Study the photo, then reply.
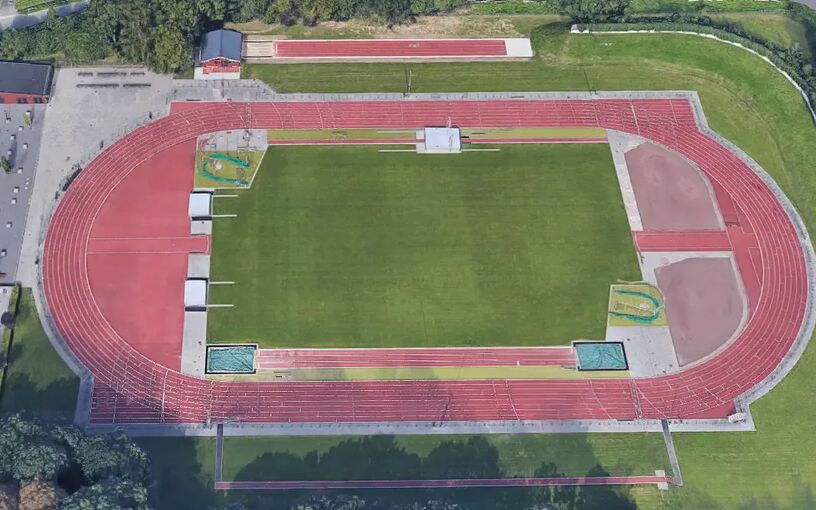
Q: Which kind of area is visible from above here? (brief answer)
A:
sports ground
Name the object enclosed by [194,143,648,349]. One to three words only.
sports field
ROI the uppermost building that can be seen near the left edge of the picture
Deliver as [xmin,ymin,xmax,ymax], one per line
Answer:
[0,61,53,103]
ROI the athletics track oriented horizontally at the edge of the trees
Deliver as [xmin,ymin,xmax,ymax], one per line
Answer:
[41,100,806,427]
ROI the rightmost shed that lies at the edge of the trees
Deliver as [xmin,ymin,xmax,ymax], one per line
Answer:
[199,27,241,75]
